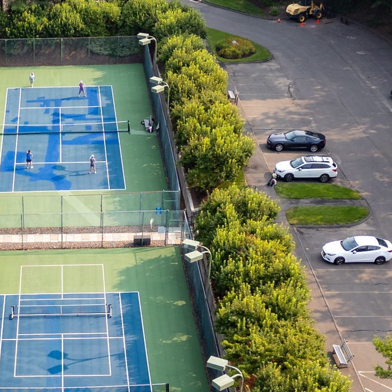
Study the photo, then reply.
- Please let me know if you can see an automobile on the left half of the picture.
No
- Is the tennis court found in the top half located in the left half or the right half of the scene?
left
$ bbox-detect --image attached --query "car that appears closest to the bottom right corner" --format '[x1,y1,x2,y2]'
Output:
[321,234,392,262]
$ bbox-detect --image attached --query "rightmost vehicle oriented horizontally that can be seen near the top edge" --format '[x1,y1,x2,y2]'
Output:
[285,0,338,22]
